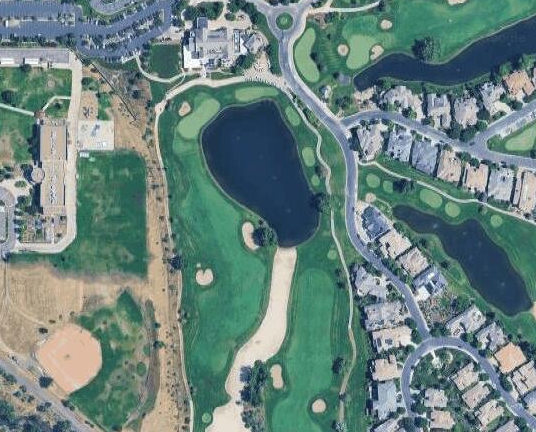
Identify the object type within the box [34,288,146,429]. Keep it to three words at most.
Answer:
baseball field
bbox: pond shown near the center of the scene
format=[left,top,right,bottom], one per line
[201,100,319,246]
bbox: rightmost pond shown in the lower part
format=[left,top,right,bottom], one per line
[392,206,530,315]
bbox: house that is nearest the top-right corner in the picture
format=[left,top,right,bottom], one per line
[503,65,534,101]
